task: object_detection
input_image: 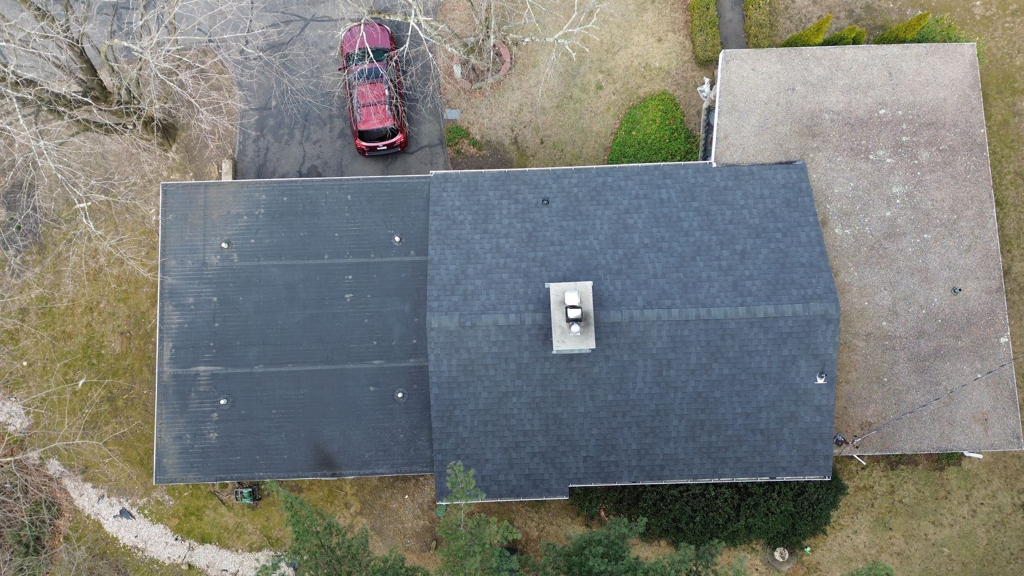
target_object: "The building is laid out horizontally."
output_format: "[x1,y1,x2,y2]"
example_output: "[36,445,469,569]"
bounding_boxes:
[154,43,1024,506]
